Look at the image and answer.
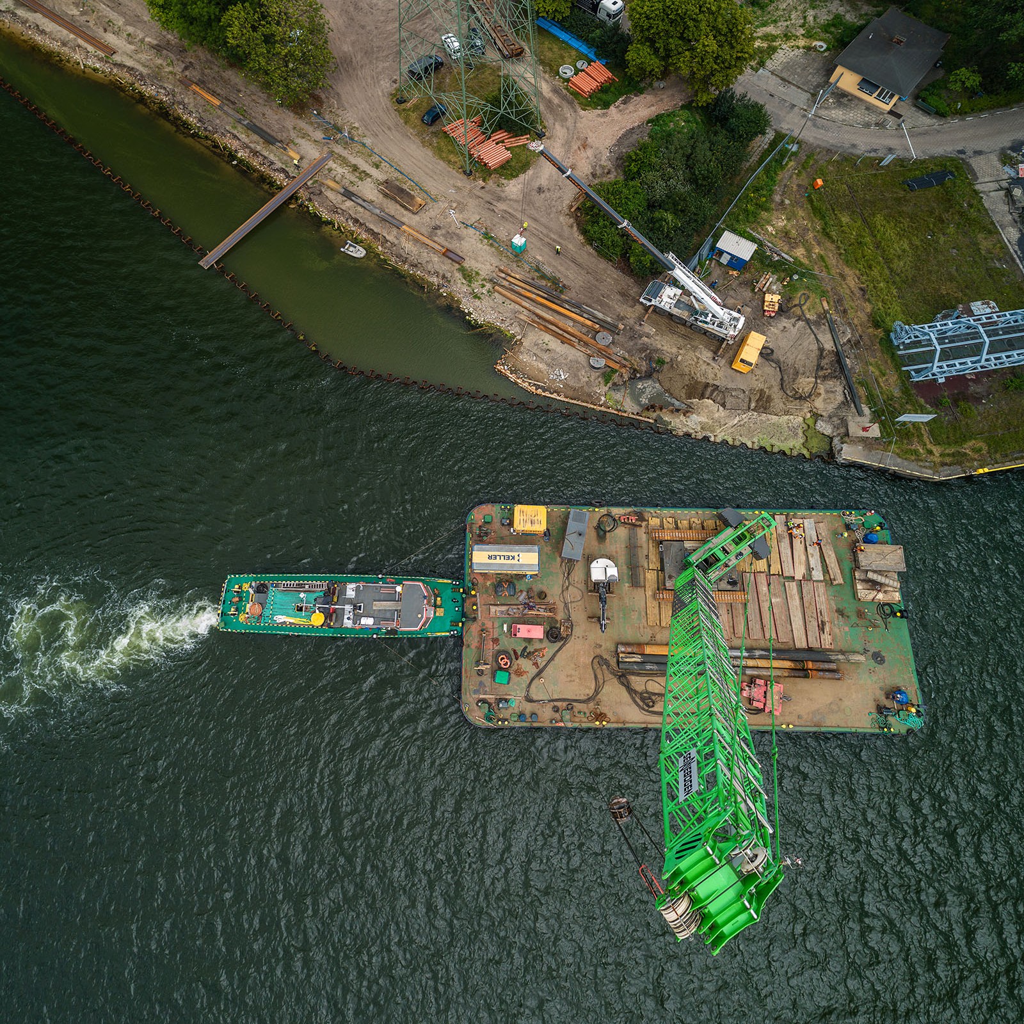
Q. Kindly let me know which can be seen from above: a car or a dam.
car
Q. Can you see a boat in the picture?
Yes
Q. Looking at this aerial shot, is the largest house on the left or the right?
right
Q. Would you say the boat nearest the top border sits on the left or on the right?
left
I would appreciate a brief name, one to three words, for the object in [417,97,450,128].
car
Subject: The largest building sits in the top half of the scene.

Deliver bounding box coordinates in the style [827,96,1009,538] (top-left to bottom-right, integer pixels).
[838,1,946,121]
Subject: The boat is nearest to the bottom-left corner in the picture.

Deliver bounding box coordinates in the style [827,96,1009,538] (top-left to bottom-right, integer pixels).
[217,572,466,640]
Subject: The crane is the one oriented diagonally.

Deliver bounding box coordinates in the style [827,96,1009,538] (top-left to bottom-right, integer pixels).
[517,140,752,366]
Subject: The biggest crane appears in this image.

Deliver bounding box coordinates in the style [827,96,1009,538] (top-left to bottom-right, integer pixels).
[592,507,811,953]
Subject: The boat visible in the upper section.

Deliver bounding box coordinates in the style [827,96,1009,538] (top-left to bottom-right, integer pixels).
[340,238,368,259]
